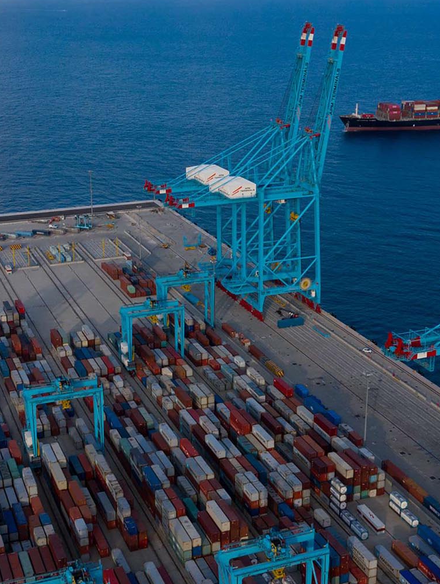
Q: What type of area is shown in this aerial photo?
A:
port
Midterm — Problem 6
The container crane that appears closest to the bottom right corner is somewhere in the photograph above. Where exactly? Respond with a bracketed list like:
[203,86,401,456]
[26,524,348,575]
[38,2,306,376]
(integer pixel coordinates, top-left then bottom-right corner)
[222,522,336,584]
